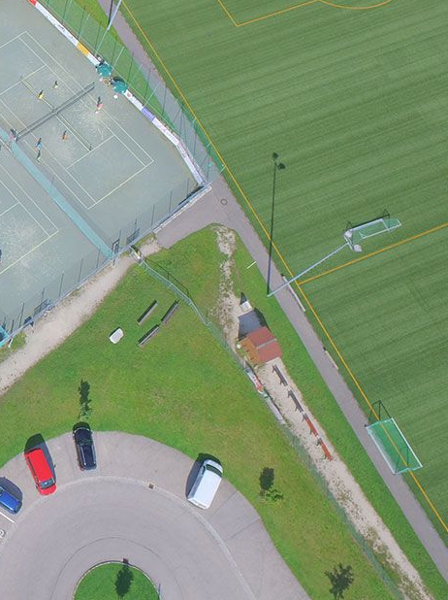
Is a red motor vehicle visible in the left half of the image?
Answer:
Yes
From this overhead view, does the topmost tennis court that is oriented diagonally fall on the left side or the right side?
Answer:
left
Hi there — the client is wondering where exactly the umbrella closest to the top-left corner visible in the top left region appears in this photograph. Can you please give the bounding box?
[96,64,111,81]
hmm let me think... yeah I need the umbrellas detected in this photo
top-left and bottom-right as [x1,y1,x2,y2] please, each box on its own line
[96,64,111,81]
[111,79,128,96]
